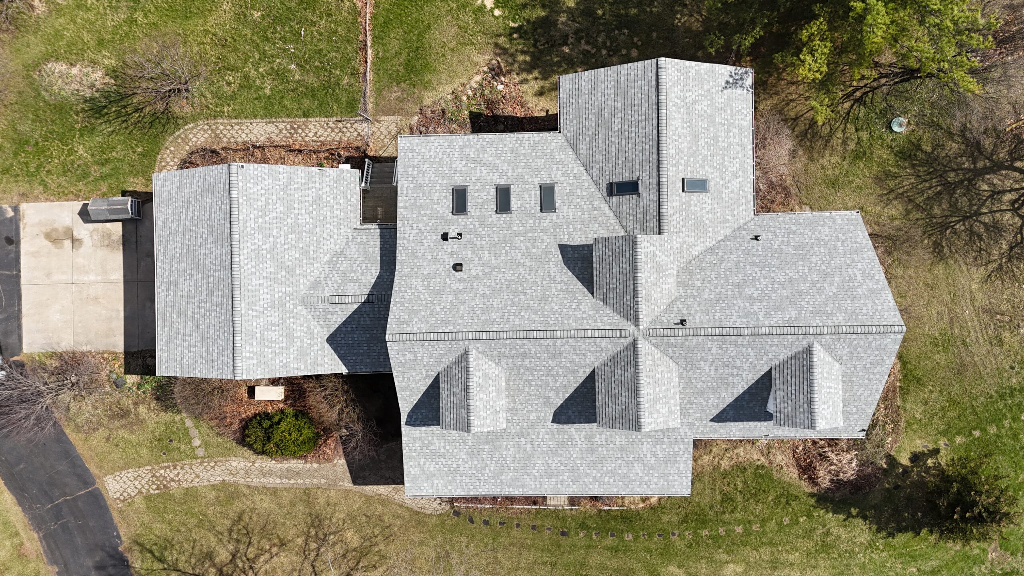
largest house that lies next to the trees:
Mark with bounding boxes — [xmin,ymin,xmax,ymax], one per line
[151,58,905,499]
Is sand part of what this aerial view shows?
No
